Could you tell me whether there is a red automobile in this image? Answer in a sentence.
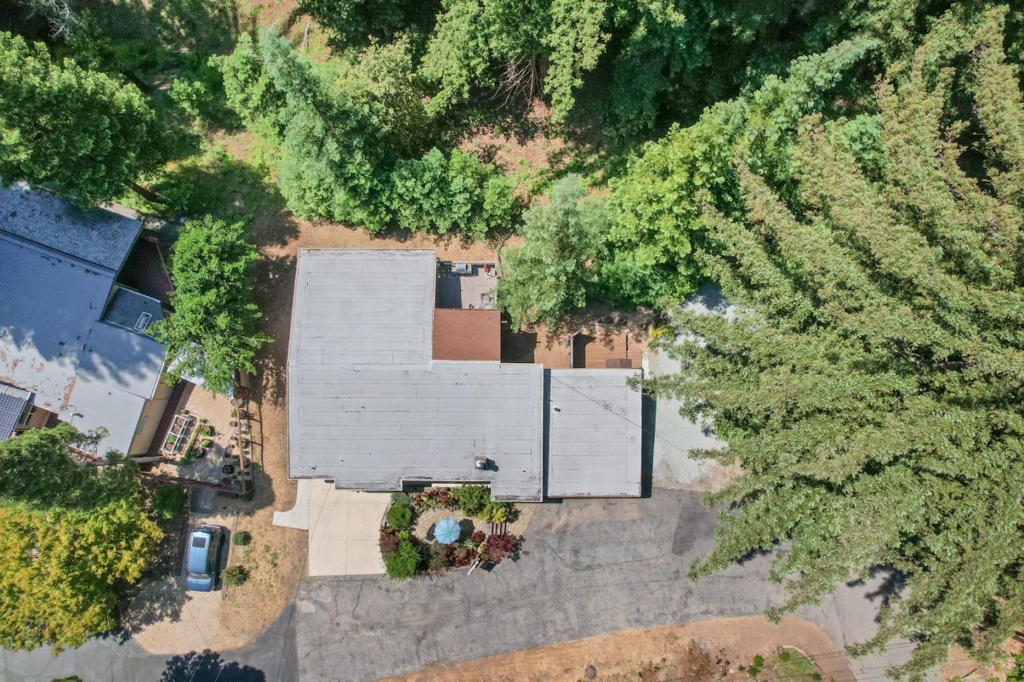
No, this view has no red automobile in it.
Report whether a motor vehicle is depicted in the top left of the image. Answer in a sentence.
No, no motor vehicle is visible in the top left of the image.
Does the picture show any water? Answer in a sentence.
No, there is no water in the image.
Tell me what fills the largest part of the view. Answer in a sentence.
What you mostly see from above here is trees.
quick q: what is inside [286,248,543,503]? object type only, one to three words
house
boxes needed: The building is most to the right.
[547,368,642,498]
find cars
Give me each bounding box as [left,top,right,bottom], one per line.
[184,524,221,590]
